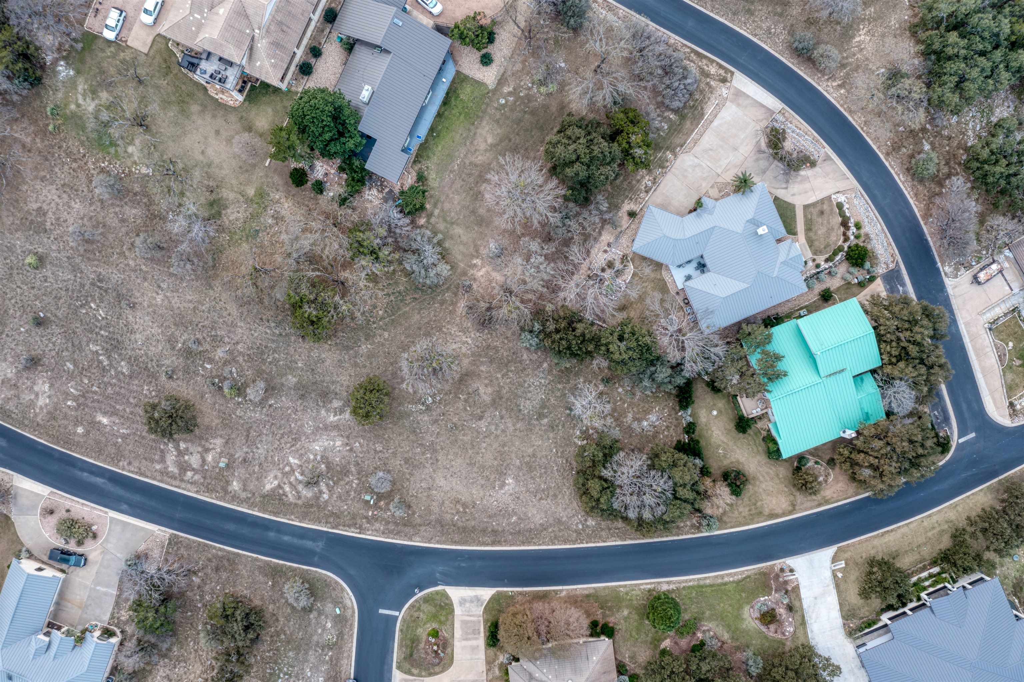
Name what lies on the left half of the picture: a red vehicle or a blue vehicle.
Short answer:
blue vehicle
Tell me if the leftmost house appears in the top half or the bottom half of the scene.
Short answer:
bottom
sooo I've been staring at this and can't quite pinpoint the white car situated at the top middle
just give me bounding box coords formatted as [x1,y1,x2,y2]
[414,0,443,20]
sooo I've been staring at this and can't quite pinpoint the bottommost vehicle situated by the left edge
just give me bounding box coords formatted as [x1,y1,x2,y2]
[48,547,90,567]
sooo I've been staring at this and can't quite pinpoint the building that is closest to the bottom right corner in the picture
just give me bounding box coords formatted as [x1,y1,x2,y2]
[851,576,1024,682]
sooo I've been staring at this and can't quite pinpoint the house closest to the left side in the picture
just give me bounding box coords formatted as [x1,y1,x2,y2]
[0,556,122,682]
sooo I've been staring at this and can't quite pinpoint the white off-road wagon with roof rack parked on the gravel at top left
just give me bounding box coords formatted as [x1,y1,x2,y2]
[105,6,128,42]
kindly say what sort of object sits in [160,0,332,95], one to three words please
house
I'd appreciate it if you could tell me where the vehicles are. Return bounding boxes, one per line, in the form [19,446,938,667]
[142,0,164,28]
[344,671,358,682]
[48,547,90,567]
[414,0,443,20]
[105,6,128,42]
